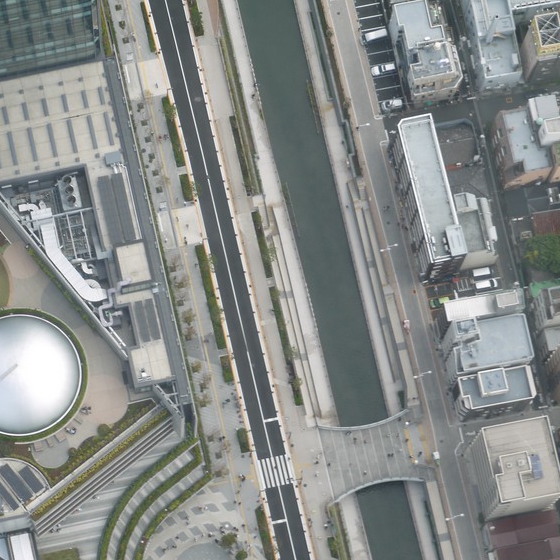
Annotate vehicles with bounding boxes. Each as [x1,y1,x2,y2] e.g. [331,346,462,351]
[362,27,388,42]
[380,96,404,110]
[371,62,396,75]
[470,265,493,278]
[474,278,498,291]
[426,295,451,309]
